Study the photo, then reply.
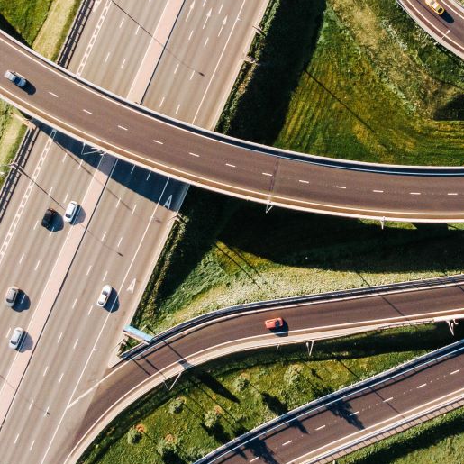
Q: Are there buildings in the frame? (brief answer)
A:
No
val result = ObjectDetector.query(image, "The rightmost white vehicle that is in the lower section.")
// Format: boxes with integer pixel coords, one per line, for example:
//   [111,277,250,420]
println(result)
[97,284,113,307]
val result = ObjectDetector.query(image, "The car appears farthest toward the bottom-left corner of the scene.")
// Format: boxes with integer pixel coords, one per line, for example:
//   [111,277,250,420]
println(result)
[10,327,24,349]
